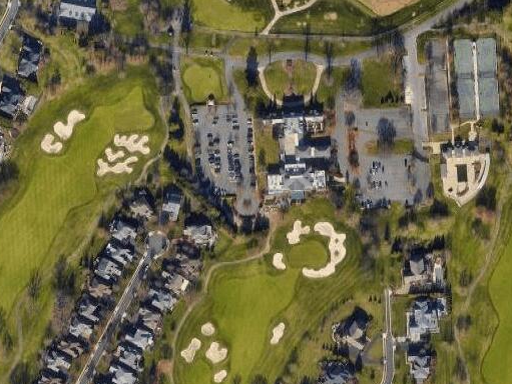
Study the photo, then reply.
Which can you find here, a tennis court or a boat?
tennis court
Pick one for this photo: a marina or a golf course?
golf course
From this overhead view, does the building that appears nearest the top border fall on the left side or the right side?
left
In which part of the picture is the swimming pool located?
right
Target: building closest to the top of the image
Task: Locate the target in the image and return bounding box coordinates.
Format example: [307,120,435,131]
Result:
[58,0,99,21]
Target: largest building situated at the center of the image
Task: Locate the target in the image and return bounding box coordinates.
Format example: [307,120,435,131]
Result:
[262,106,332,199]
